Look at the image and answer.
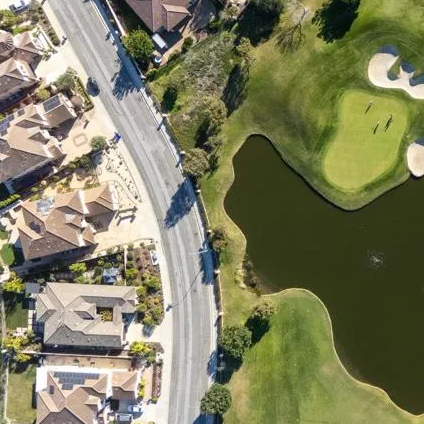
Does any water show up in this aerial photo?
Yes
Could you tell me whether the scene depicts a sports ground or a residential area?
residential area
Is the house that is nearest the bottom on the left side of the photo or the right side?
left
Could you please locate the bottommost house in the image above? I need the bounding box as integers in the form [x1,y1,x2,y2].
[35,369,140,424]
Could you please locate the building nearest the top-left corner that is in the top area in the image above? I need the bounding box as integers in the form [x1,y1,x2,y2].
[0,24,46,113]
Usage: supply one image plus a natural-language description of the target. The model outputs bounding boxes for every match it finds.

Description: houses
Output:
[0,24,46,113]
[122,0,192,30]
[10,184,119,267]
[0,94,78,188]
[24,282,137,350]
[35,369,140,424]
